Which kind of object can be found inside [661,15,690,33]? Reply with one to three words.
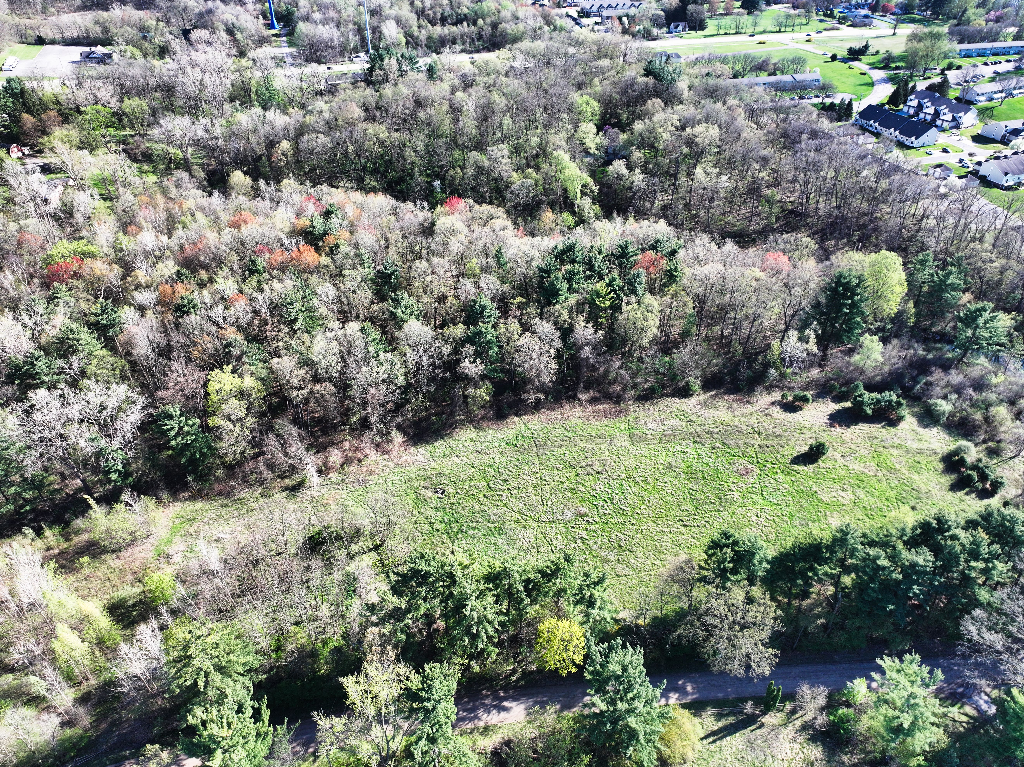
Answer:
house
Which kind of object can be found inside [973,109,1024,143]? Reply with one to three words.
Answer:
house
